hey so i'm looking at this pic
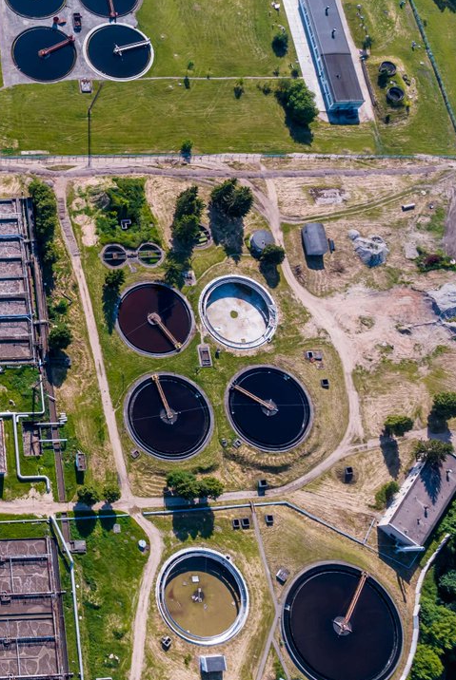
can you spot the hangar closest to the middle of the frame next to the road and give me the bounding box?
[299,222,328,260]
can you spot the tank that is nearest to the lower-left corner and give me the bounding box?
[157,550,251,647]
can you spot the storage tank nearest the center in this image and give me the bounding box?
[200,275,280,350]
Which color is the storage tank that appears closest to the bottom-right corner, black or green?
black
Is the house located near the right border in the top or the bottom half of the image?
bottom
